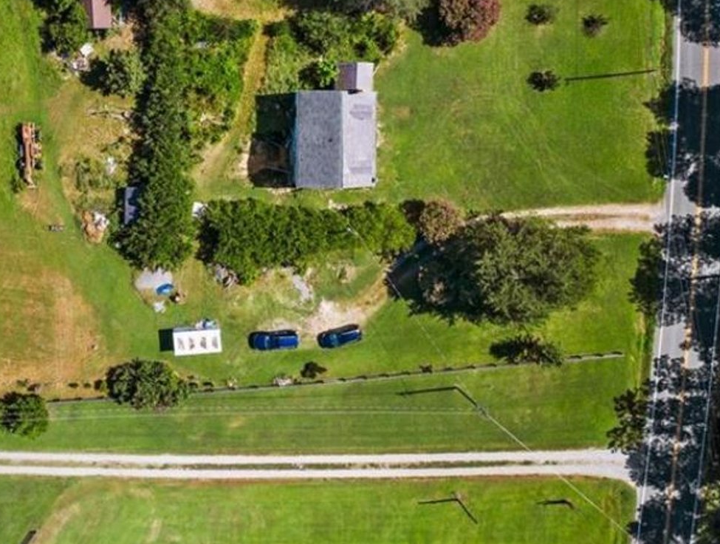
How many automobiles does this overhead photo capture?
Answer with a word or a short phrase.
two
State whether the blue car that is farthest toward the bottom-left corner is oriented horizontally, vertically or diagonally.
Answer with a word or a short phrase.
horizontally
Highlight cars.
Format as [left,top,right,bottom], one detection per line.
[317,324,366,353]
[253,332,300,354]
